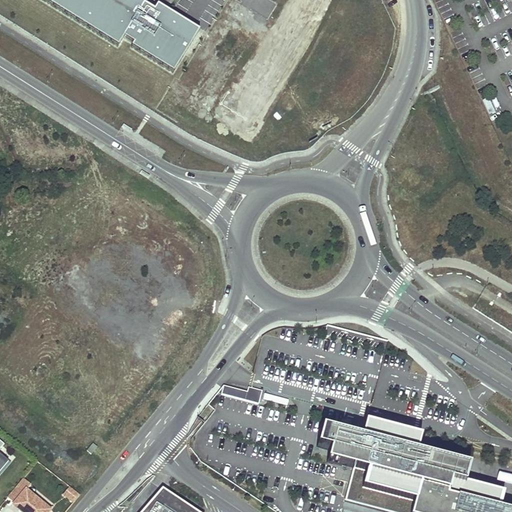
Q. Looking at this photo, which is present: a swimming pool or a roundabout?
roundabout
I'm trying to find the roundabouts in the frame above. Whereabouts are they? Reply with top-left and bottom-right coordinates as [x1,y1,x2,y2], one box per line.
[228,170,378,319]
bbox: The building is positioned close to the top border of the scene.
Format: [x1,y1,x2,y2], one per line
[40,0,204,74]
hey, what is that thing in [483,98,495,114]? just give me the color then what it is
white vehicle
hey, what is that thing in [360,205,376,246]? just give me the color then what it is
white vehicle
